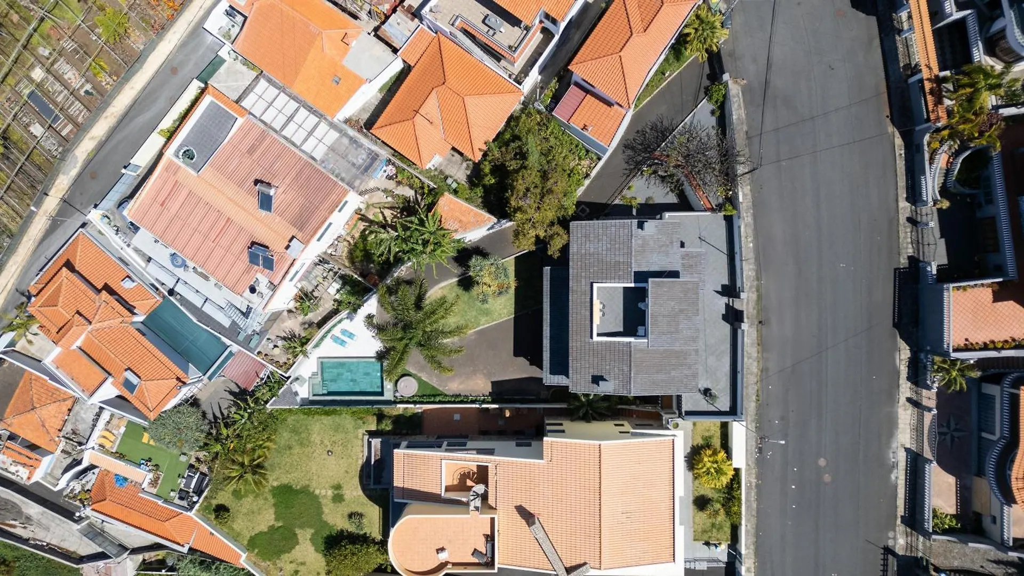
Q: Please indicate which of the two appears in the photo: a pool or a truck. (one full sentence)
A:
Looking from above, you can make out a pool.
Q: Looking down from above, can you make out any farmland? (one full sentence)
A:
No, no farmland is visible.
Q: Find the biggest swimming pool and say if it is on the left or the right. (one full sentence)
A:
The biggest swimming pool sits on the left side.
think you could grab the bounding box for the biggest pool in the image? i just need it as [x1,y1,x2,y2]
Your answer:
[286,294,397,404]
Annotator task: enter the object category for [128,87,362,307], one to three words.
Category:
house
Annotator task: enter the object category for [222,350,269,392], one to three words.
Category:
shed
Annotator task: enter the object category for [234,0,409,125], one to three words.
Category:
house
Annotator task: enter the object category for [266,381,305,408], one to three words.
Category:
shed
